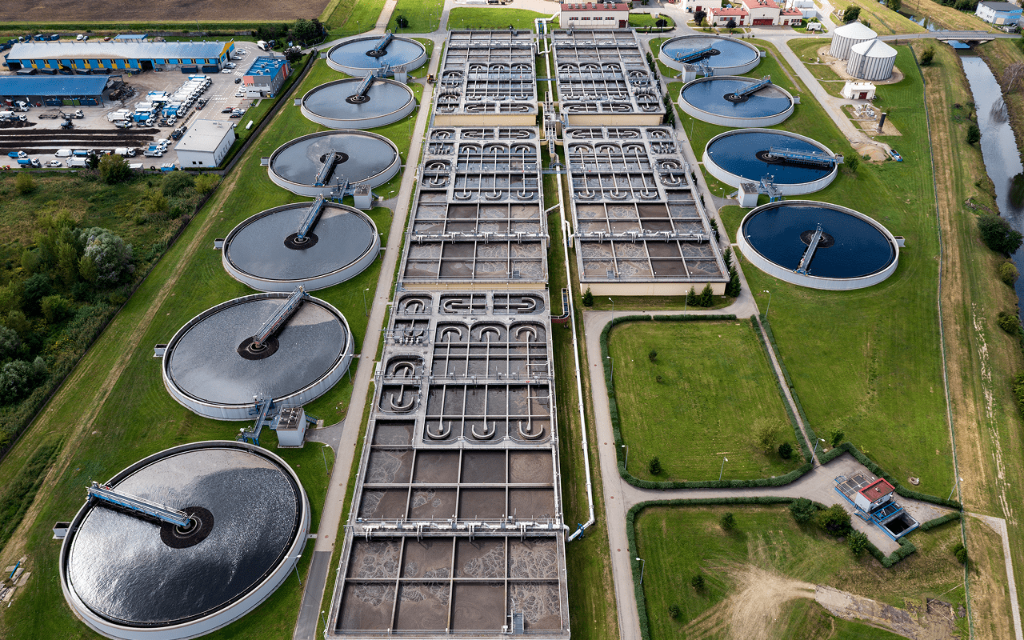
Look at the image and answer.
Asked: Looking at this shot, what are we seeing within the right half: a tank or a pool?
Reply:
tank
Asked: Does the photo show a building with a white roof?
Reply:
Yes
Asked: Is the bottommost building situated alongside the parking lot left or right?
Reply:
left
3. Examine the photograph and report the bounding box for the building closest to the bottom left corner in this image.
[274,407,334,448]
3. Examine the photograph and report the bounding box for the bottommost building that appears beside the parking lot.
[173,121,235,167]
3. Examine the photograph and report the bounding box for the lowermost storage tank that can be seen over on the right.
[736,199,899,291]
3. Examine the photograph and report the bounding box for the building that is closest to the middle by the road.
[352,183,391,209]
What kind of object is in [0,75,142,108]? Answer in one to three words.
shed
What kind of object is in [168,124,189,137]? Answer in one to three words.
vehicle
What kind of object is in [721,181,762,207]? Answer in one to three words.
building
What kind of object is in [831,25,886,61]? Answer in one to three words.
storage tank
